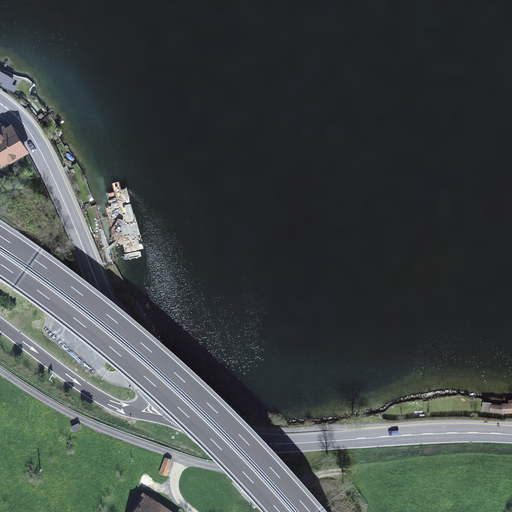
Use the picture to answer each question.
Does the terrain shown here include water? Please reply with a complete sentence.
Yes, some water is visible.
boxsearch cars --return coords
[388,430,399,436]
[27,138,36,150]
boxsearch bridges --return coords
[0,220,326,512]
